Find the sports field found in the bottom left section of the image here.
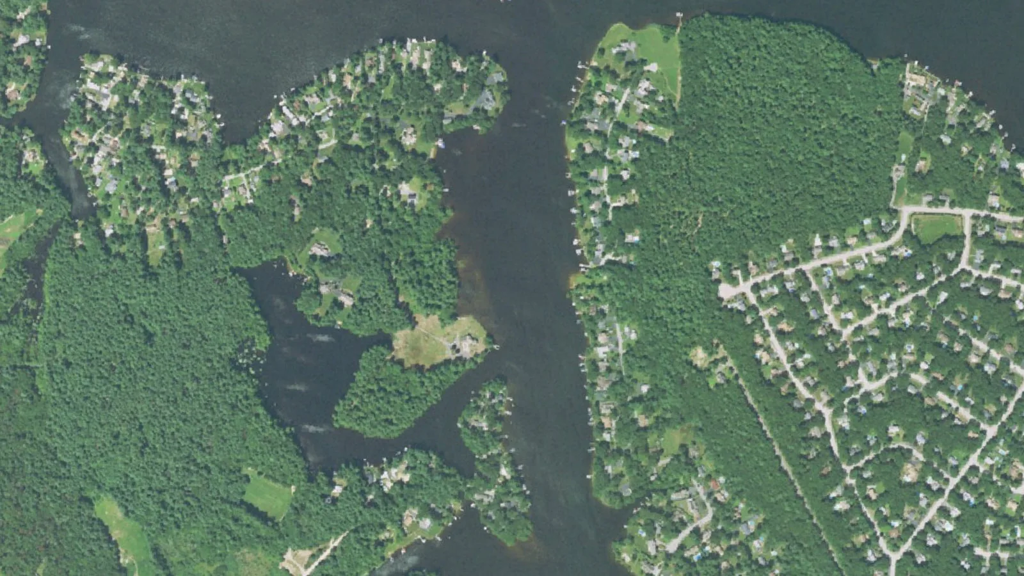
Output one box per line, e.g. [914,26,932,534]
[242,471,293,520]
